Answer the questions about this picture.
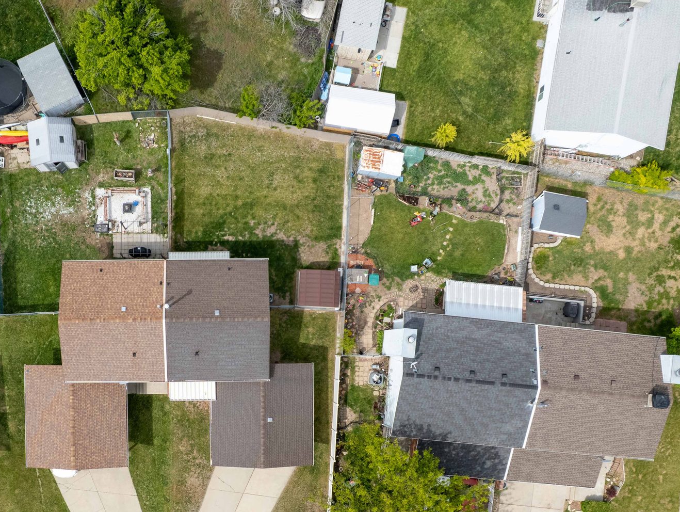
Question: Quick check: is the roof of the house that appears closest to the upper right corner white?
Yes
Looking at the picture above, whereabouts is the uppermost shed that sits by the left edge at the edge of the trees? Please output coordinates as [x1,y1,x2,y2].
[18,42,88,118]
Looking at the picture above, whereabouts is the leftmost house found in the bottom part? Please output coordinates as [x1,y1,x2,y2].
[24,250,315,470]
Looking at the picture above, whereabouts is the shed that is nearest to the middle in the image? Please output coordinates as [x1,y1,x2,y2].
[296,269,339,309]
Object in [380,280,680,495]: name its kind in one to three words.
house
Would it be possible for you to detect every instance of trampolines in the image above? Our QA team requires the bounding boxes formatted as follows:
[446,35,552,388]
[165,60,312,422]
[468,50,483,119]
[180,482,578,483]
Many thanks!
[0,54,30,120]
[388,131,399,143]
